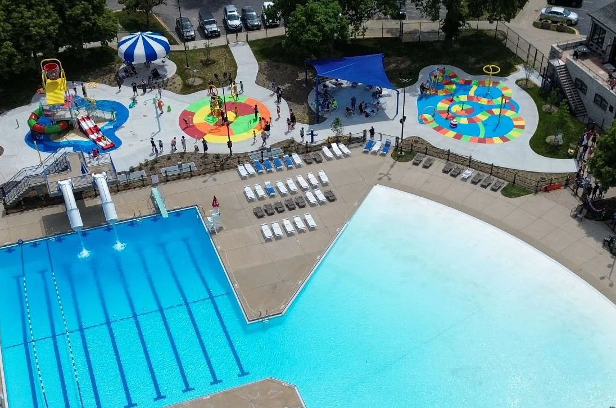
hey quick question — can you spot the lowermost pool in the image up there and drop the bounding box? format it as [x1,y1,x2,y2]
[0,185,616,408]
